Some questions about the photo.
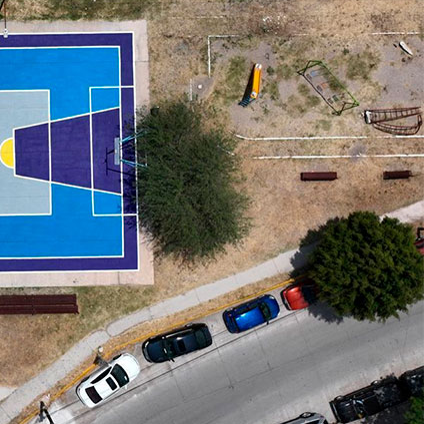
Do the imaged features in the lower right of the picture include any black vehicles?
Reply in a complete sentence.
Yes, in the lower right of the picture there is a black vehicle.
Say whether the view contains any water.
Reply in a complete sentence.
No, the scene doesn't show any water.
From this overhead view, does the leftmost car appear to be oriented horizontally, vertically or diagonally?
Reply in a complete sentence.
The leftmost car has been laid out diagonally relative to the frame.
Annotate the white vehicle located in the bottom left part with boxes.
[75,353,142,411]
